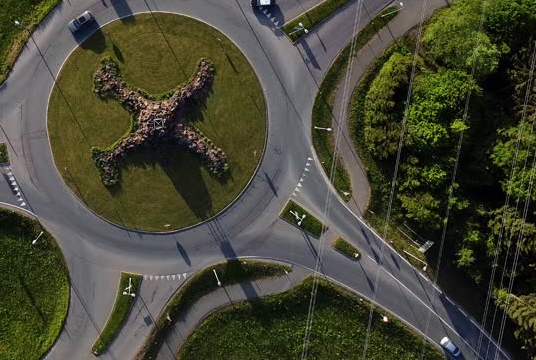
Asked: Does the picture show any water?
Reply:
No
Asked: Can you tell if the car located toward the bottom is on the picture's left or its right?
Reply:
right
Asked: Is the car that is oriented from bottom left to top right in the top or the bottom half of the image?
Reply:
top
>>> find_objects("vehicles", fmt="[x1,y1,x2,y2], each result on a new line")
[251,0,276,9]
[67,9,96,34]
[438,334,462,360]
